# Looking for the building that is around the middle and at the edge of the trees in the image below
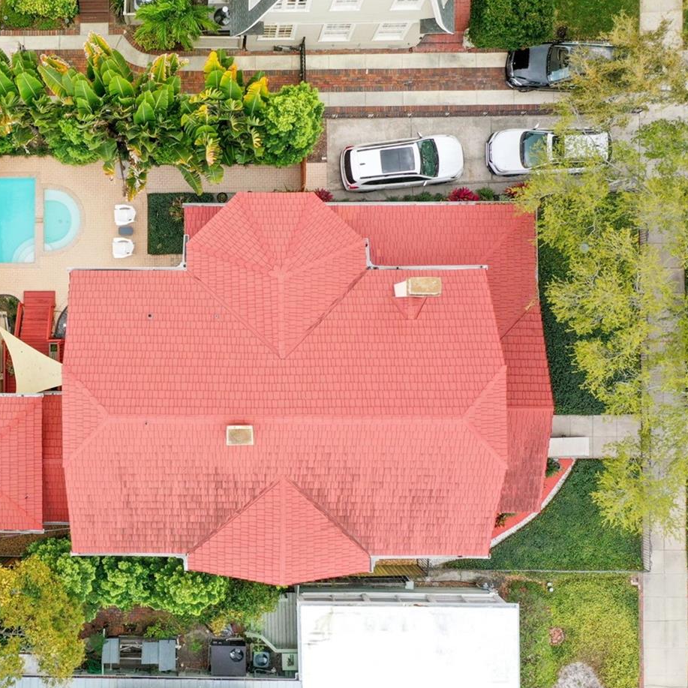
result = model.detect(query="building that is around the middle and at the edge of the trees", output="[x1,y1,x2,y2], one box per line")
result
[39,190,588,585]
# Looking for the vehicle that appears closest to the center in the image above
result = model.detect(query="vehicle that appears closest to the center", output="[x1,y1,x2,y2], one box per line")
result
[340,128,464,193]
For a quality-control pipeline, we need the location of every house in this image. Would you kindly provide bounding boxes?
[233,0,458,49]
[0,585,525,688]
[39,190,588,585]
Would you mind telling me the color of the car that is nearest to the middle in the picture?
white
